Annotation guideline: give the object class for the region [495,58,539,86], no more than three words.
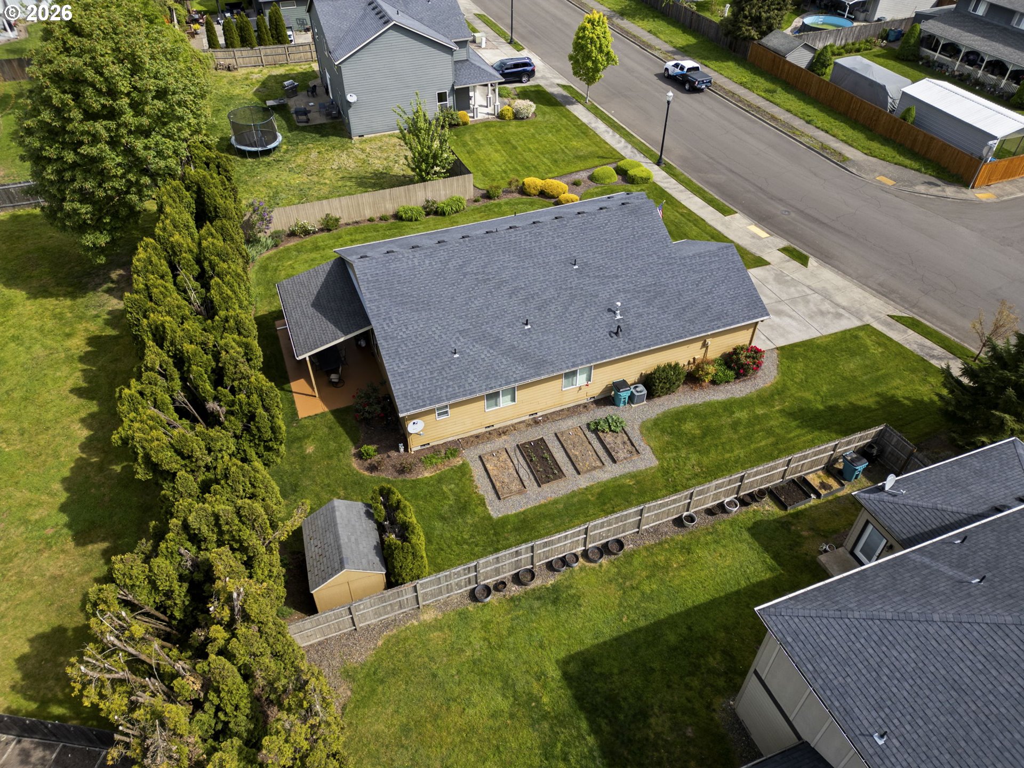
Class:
car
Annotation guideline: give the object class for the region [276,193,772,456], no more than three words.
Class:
house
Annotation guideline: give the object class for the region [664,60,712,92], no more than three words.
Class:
truck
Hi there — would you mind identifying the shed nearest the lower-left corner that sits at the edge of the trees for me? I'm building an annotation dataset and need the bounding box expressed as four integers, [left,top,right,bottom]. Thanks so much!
[297,506,386,617]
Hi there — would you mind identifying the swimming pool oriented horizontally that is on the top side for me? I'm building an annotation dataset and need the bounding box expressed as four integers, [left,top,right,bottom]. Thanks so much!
[800,14,856,34]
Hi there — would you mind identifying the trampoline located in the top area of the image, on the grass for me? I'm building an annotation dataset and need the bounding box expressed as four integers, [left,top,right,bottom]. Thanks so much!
[227,107,283,160]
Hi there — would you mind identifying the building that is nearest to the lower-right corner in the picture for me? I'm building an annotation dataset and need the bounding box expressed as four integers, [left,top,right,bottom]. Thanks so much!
[735,435,1024,768]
